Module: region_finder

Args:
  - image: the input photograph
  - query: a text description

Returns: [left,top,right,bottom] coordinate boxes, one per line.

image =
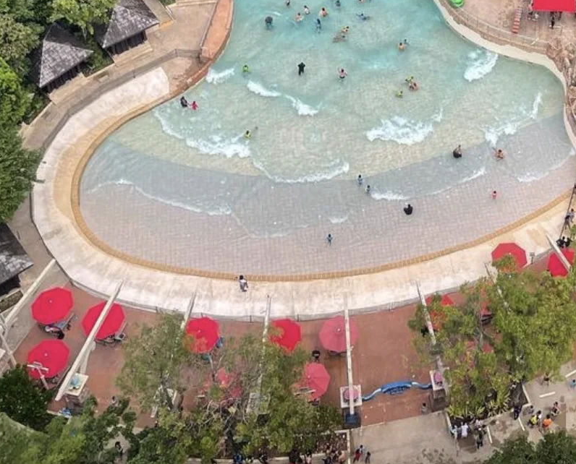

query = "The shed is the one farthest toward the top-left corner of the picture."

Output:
[41,19,100,103]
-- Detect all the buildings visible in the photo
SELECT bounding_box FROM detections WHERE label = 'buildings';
[103,0,163,65]
[0,223,38,306]
[41,19,100,103]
